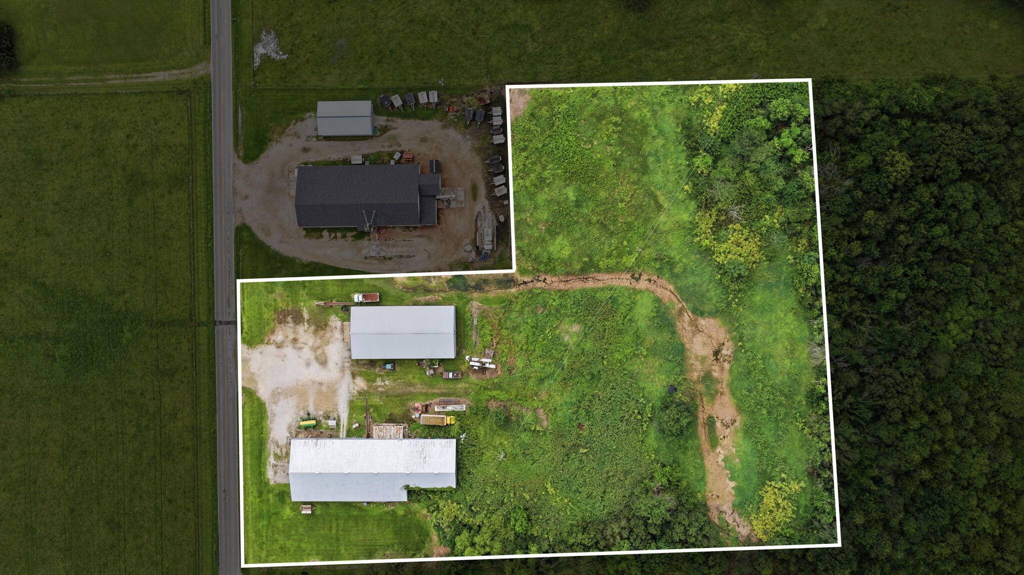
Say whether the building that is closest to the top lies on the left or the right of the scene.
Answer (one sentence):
The building that is closest to the top is on the left side of the image.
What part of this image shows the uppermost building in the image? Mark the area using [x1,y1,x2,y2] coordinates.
[316,101,373,137]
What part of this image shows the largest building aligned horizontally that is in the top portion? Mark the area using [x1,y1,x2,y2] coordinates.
[294,165,440,230]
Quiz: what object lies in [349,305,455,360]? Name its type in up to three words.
barn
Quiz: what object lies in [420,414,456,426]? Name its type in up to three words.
vehicle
